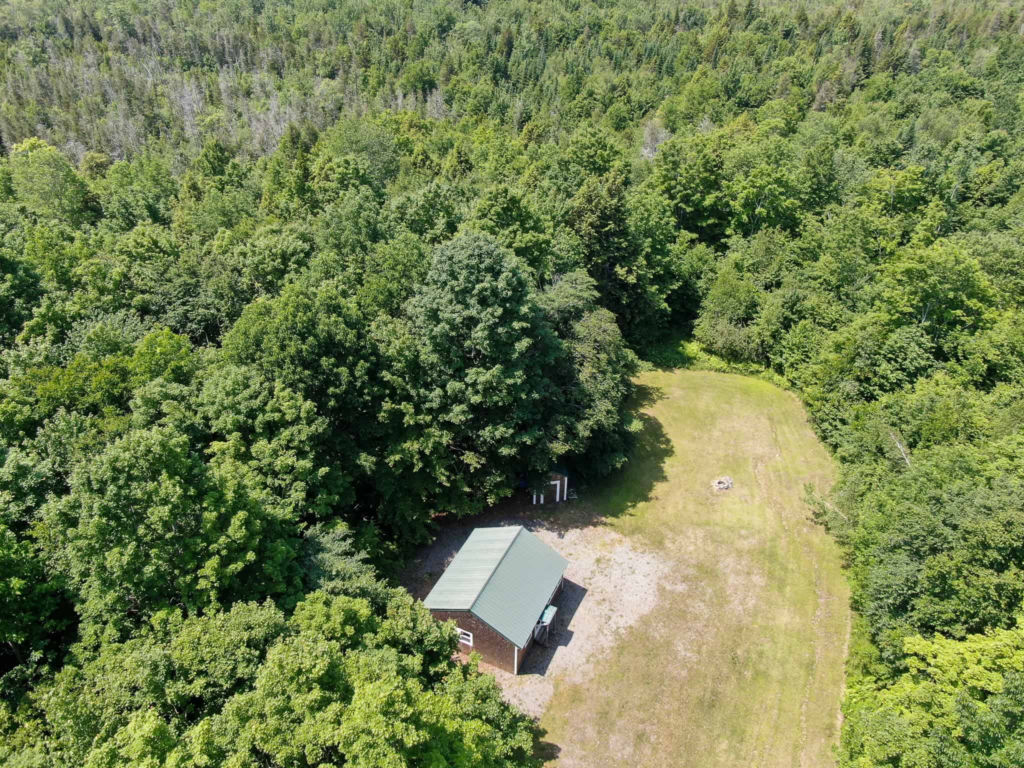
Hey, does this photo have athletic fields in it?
No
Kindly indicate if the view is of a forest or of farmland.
forest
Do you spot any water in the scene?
No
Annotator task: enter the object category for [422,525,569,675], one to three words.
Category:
building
